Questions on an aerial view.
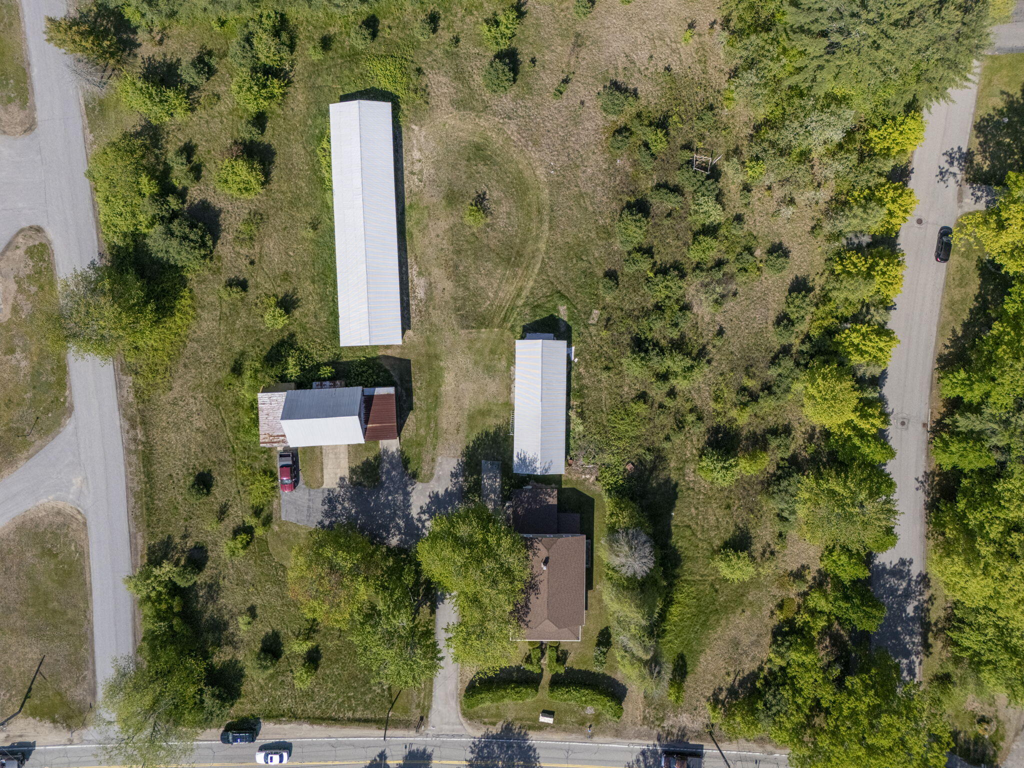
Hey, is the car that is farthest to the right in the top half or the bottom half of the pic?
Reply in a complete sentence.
It is in the top half that the car that is farthest to the right appears.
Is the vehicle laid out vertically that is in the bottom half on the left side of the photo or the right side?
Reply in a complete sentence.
It is on the left.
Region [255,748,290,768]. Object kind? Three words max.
car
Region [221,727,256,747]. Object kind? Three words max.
car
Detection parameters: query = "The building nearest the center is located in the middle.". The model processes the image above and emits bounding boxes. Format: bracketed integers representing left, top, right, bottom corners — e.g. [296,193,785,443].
[513,333,575,476]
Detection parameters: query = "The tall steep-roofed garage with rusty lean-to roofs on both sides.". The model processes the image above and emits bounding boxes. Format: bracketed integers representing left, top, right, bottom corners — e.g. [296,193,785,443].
[257,381,402,448]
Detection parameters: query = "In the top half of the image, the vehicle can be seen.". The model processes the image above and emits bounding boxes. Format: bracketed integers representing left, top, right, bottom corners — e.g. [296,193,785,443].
[934,226,955,262]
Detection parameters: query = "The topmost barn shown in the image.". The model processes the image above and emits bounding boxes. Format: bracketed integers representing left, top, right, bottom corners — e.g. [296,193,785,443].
[330,99,405,346]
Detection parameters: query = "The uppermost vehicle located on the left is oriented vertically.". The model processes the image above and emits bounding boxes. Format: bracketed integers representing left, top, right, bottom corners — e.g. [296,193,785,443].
[278,449,298,493]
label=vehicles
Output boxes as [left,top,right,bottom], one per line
[278,449,298,493]
[221,727,256,747]
[255,748,290,768]
[659,752,703,768]
[934,226,955,262]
